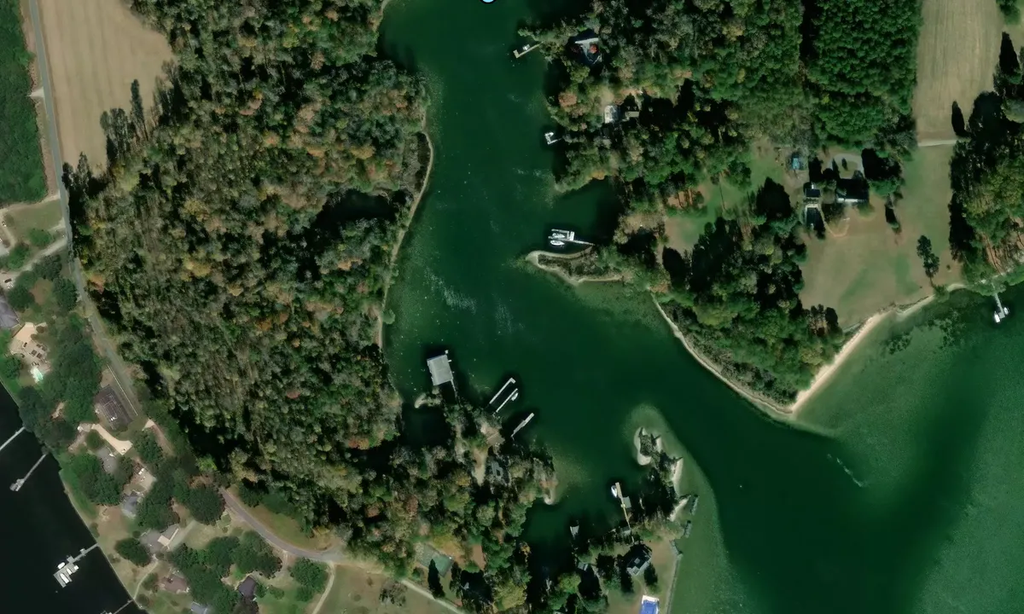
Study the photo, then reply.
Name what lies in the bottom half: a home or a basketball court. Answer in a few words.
home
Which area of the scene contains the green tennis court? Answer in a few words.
bottom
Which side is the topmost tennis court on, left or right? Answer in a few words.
left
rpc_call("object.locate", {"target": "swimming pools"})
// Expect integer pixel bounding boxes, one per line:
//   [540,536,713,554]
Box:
[805,205,824,226]
[30,367,43,382]
[639,596,659,614]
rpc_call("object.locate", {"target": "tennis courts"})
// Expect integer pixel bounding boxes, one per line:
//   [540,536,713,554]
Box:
[92,387,134,436]
[414,542,457,579]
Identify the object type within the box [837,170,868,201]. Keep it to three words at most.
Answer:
house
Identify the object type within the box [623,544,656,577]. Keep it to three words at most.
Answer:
house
